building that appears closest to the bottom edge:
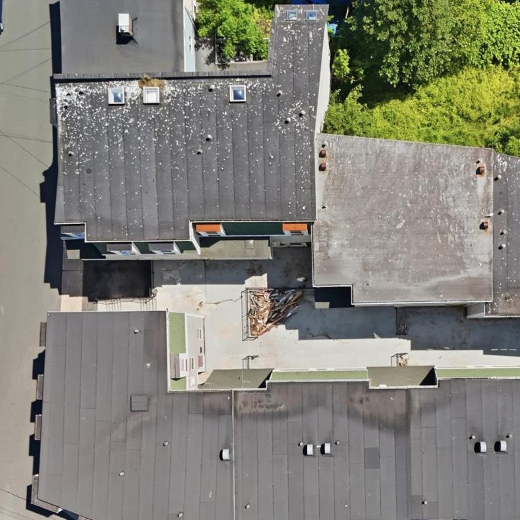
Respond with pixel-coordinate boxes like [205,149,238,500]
[31,311,520,520]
